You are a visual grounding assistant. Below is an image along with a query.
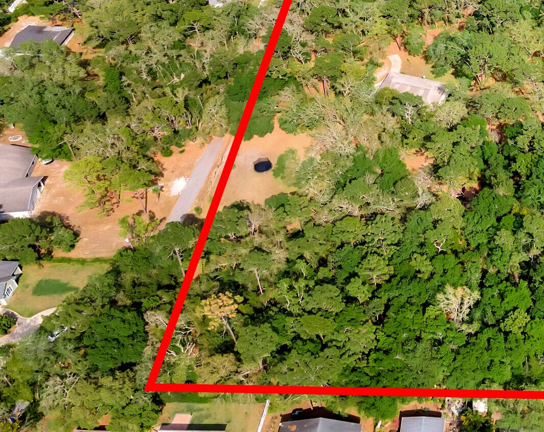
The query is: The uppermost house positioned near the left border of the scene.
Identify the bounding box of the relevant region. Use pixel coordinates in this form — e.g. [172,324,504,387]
[10,28,72,54]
